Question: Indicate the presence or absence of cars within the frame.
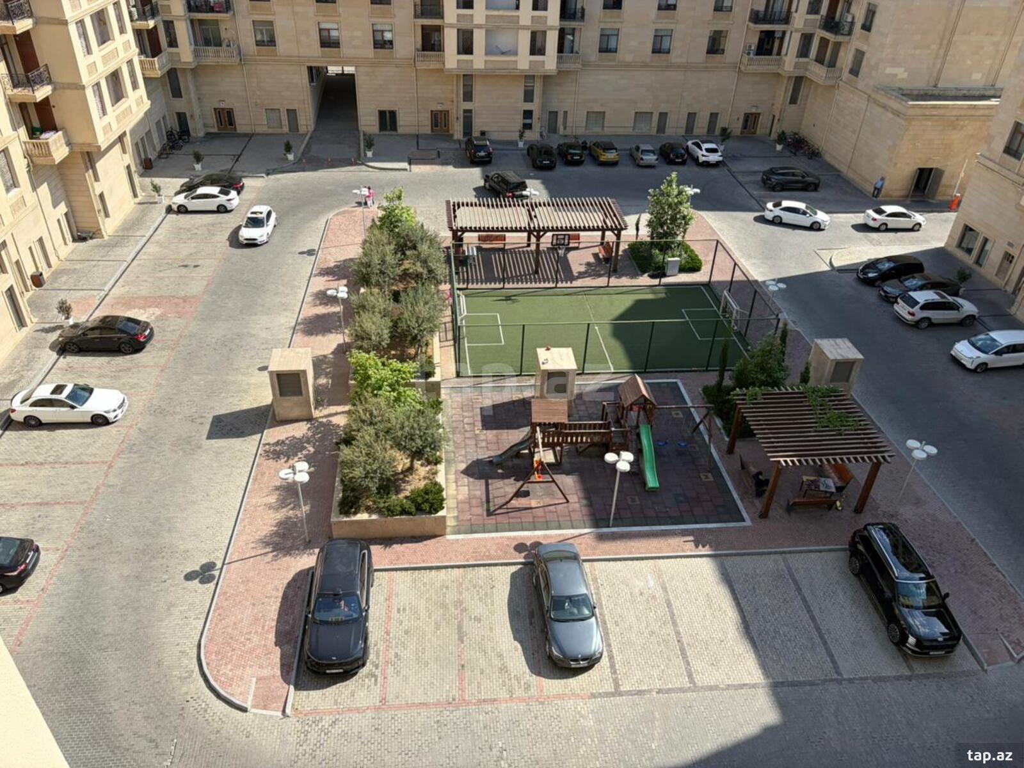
Yes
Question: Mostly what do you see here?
paved ground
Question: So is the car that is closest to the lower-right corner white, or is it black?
black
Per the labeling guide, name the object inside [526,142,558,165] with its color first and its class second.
black car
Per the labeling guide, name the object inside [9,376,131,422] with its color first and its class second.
white car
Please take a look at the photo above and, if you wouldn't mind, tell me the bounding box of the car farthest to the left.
[0,526,45,584]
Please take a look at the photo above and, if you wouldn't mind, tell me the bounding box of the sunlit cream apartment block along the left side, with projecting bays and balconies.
[0,0,175,357]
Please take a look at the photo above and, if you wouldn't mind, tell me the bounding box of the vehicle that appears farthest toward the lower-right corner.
[849,519,968,655]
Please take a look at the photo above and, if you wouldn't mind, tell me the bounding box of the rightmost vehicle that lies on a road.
[954,325,1024,367]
